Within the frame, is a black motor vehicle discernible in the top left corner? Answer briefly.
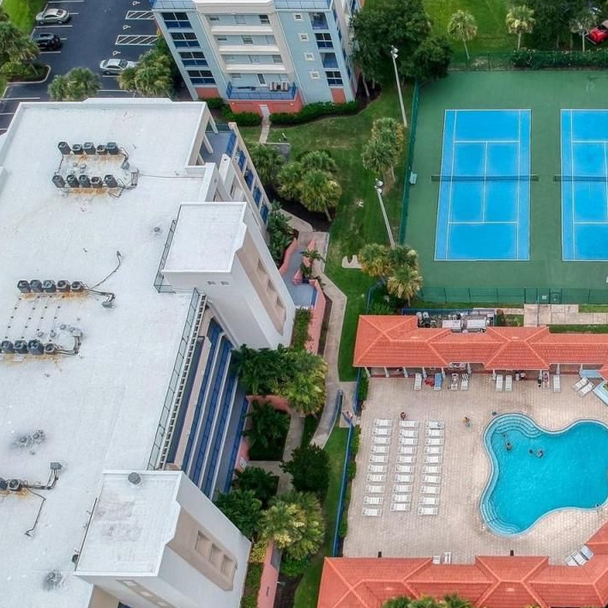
Yes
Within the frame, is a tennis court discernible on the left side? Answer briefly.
No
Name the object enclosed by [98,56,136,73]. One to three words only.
car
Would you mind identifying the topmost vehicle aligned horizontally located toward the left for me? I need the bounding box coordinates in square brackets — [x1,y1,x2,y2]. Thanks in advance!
[33,5,68,24]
